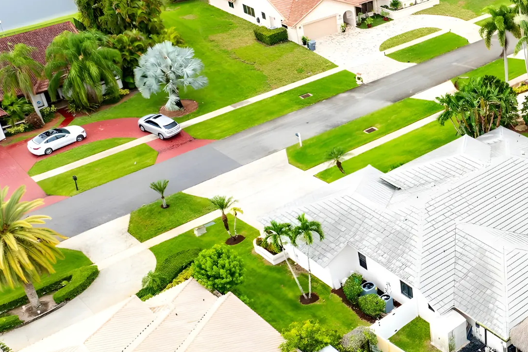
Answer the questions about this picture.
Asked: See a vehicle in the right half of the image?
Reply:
No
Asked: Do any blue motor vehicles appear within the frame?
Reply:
No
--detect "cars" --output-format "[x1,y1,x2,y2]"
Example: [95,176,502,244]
[137,112,180,137]
[24,128,84,153]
